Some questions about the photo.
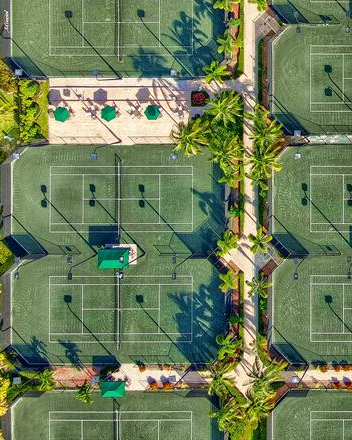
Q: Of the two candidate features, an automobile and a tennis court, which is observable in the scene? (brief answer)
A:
tennis court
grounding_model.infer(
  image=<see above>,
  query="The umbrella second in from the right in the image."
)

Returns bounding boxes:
[100,106,117,121]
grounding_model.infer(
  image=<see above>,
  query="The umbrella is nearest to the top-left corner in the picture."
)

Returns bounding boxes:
[53,106,71,121]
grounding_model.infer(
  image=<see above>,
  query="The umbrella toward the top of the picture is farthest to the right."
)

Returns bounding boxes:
[144,105,161,120]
